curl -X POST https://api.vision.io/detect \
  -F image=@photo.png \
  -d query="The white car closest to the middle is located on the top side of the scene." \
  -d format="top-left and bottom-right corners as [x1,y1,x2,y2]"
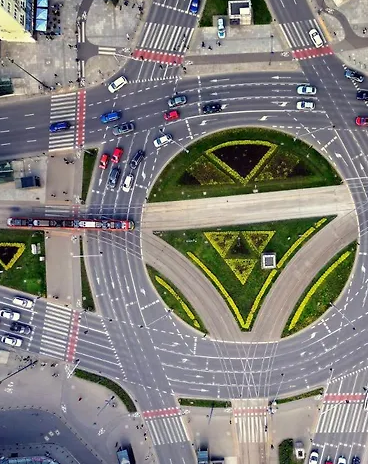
[122,173,135,193]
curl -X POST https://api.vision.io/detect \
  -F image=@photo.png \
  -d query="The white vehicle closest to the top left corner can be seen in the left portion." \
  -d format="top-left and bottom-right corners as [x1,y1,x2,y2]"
[107,74,128,94]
